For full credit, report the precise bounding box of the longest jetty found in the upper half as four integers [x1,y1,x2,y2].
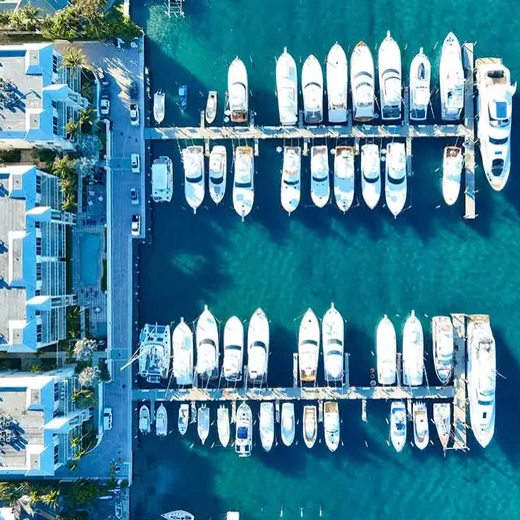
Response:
[145,43,478,218]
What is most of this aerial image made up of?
water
